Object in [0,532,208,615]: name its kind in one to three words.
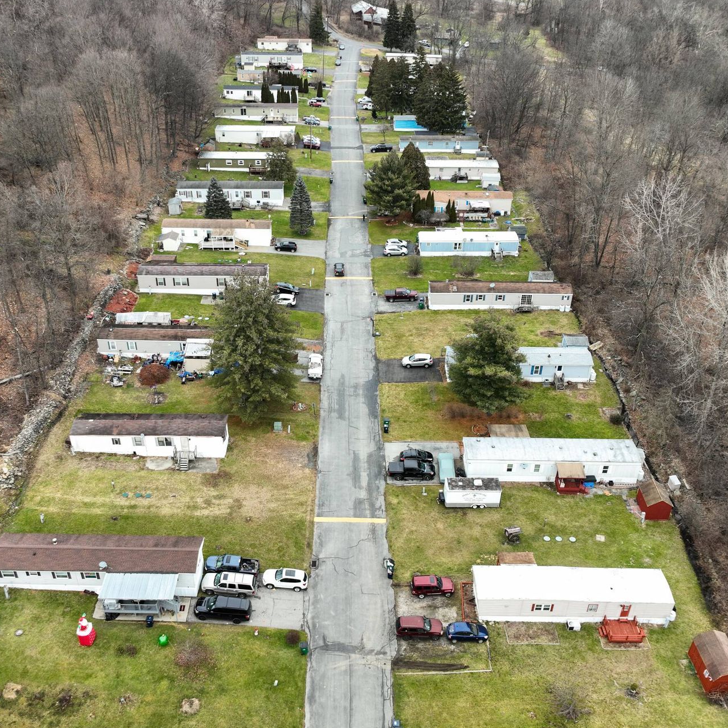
house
